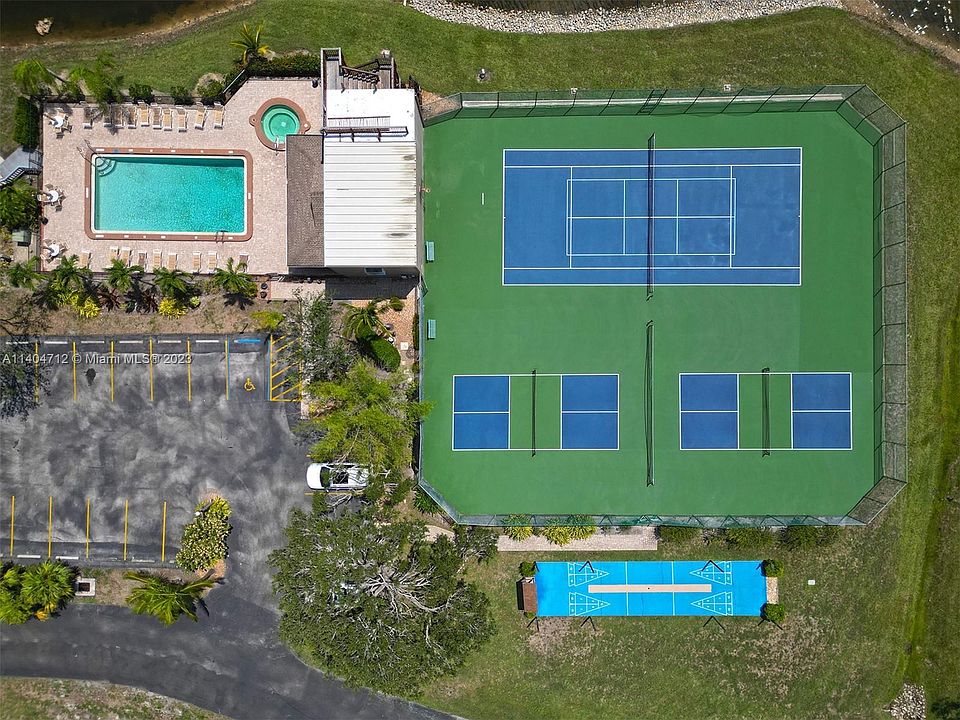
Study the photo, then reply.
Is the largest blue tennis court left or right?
right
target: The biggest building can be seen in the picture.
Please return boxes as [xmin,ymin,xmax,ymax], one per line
[287,89,424,277]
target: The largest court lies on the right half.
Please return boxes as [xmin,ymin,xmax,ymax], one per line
[423,99,883,516]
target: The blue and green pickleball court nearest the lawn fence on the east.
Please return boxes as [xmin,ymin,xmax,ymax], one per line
[680,373,852,450]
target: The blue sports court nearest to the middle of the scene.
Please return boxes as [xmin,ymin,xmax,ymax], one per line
[453,374,619,450]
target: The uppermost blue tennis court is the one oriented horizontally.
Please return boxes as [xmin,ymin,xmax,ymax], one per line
[502,147,802,286]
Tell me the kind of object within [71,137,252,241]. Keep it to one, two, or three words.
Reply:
swimming pool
